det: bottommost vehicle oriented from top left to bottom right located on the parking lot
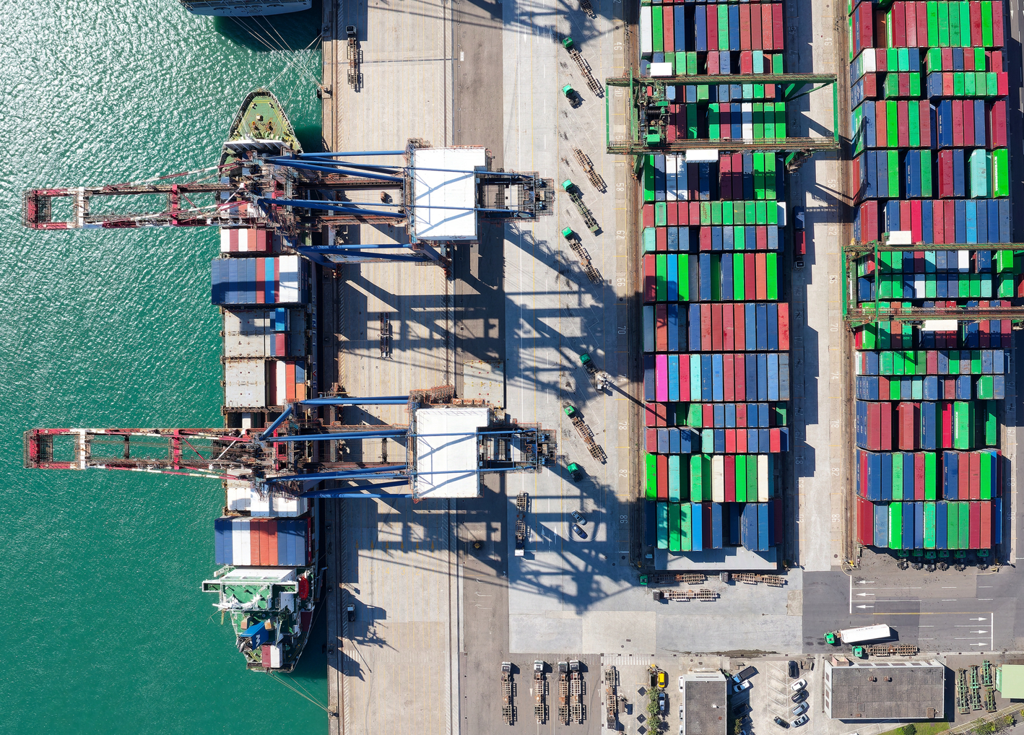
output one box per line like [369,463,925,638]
[774,715,790,730]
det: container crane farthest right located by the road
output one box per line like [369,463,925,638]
[841,230,1024,331]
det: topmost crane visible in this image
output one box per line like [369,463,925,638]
[607,61,838,171]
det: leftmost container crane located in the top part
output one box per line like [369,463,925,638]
[12,123,559,282]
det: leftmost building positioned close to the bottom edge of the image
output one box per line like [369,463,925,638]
[679,666,727,735]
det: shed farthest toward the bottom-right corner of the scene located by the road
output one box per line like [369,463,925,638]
[992,661,1024,699]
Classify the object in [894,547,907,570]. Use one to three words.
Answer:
vehicle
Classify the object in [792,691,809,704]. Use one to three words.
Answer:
vehicle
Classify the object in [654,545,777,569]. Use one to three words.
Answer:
shed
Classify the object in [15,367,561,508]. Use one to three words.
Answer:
container crane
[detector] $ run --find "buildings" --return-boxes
[654,545,777,569]
[679,666,727,735]
[822,650,945,718]
[992,661,1024,699]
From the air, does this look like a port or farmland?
port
